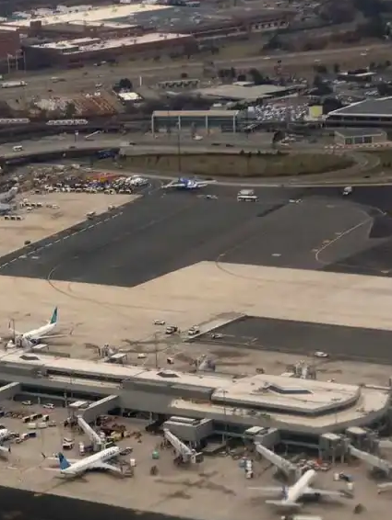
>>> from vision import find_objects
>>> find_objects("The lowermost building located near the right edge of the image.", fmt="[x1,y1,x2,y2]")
[335,127,390,151]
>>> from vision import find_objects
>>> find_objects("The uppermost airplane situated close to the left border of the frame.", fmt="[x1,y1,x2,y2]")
[6,310,69,348]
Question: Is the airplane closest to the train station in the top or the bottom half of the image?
top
